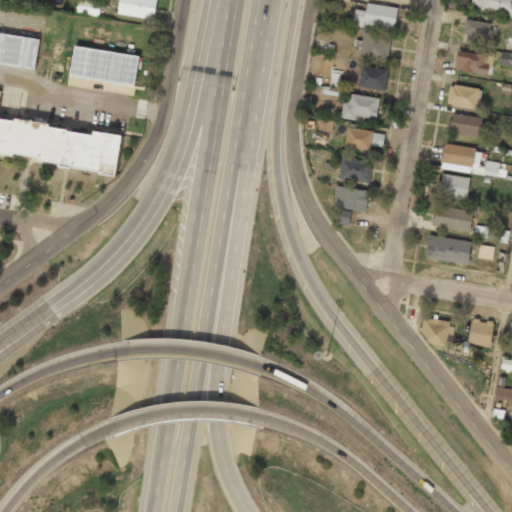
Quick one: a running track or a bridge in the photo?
bridge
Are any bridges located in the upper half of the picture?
No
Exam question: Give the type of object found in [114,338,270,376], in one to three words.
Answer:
bridge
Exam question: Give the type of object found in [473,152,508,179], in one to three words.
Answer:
building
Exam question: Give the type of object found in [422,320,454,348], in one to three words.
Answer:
house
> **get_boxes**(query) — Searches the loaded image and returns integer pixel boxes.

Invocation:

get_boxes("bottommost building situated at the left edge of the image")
[0,118,124,176]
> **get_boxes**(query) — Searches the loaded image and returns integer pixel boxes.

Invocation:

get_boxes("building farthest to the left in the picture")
[0,33,41,70]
